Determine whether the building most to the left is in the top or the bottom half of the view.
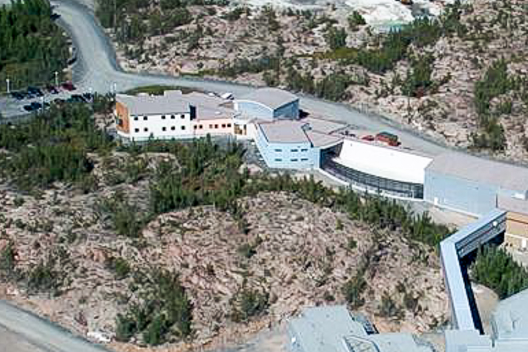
top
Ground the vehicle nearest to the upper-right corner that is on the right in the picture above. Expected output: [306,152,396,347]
[375,130,400,146]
